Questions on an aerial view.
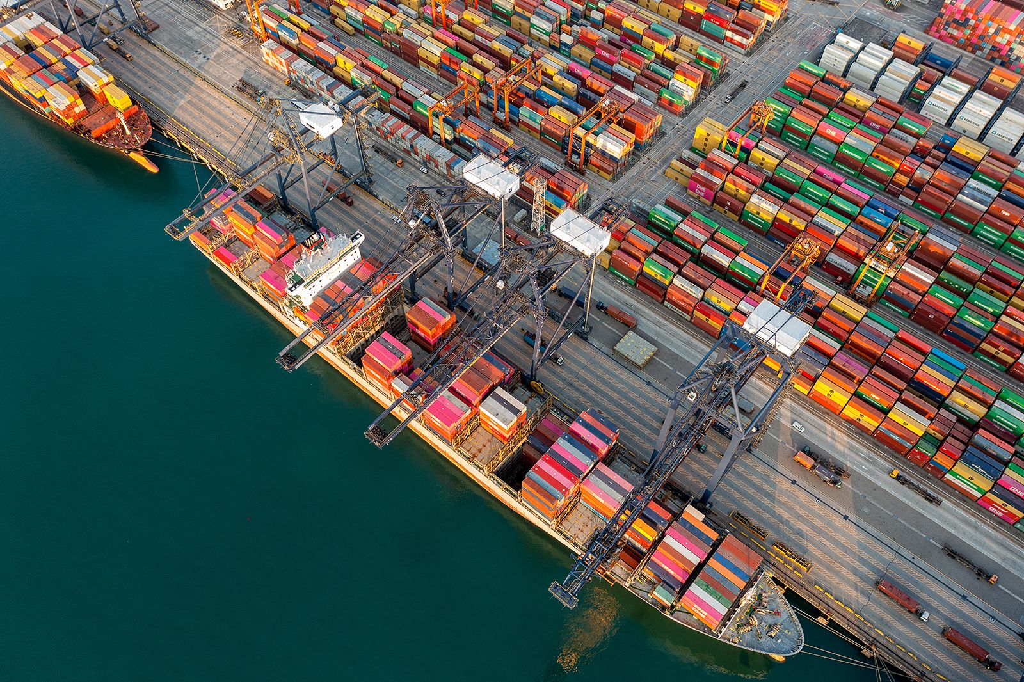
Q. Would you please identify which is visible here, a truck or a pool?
truck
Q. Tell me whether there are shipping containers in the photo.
Yes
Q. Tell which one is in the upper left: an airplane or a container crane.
container crane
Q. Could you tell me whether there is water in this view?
Yes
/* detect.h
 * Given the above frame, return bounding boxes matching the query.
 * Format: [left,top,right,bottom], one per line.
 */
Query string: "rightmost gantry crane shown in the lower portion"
[538,286,819,620]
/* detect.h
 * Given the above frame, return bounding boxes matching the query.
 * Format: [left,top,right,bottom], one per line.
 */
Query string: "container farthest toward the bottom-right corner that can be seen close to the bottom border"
[952,629,997,664]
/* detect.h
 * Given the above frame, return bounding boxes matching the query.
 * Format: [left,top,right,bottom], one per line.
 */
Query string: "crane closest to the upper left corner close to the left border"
[39,0,138,54]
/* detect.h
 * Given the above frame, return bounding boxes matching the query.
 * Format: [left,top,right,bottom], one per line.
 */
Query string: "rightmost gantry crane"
[849,219,923,304]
